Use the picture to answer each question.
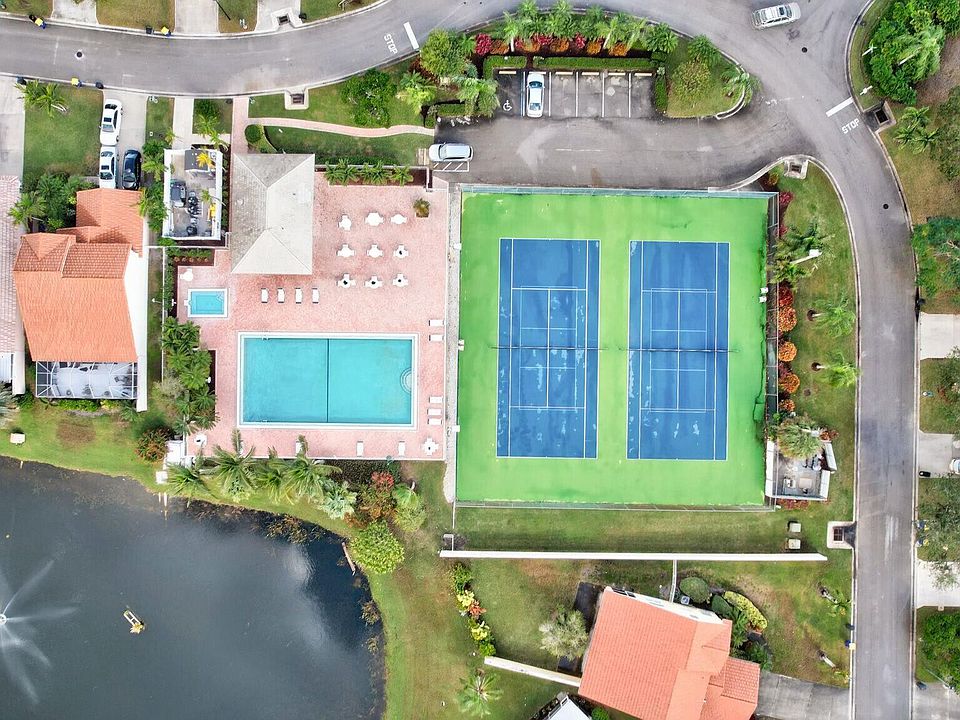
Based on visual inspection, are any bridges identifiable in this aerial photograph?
No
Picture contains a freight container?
No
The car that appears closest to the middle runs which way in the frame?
from side to side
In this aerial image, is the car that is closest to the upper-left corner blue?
No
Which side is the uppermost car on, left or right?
right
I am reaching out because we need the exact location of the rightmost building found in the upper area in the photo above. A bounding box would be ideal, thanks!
[231,153,317,275]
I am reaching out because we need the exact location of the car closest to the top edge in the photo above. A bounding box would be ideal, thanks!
[751,1,801,31]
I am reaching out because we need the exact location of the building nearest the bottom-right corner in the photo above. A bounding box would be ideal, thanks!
[578,581,761,720]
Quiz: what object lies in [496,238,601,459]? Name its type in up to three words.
tennis court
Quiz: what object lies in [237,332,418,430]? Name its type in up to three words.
swimming pool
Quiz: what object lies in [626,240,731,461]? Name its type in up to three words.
tennis court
